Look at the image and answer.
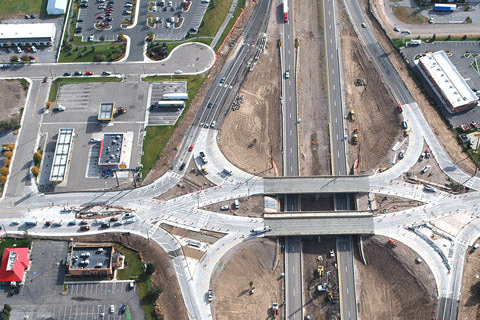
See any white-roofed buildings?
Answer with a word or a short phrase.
Yes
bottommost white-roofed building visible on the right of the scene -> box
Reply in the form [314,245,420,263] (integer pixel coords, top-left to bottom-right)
[414,49,479,115]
